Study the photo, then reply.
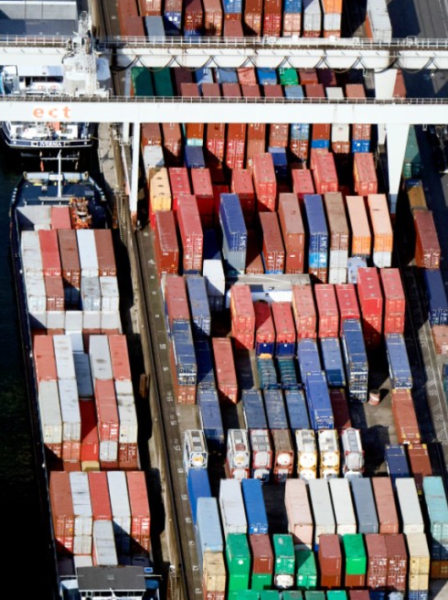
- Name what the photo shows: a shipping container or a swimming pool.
shipping container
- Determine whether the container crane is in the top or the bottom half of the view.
top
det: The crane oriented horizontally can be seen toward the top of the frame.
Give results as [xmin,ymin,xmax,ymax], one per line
[0,0,448,215]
